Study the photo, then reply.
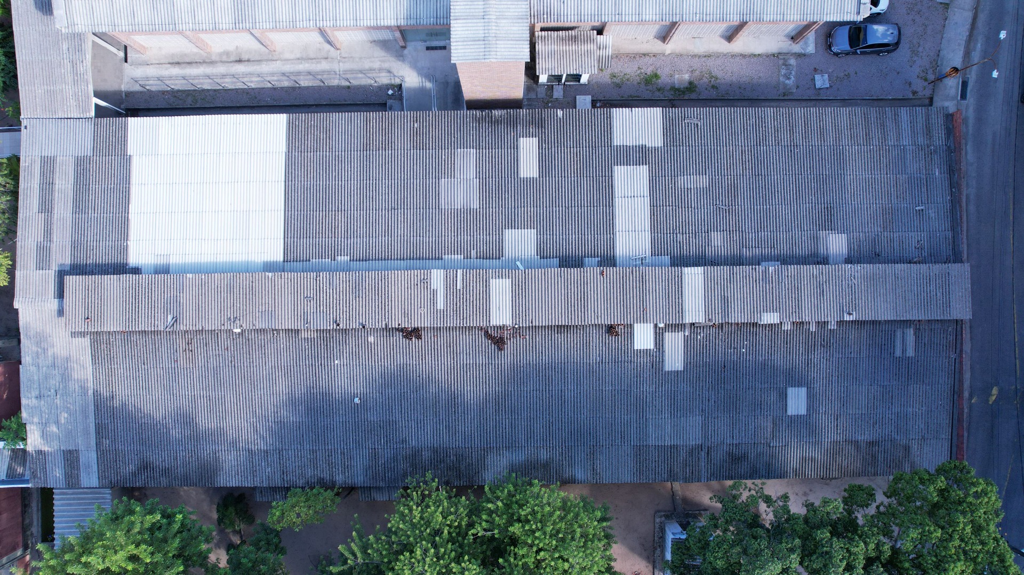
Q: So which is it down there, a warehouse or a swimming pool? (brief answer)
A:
warehouse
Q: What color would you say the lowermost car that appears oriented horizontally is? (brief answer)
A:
blue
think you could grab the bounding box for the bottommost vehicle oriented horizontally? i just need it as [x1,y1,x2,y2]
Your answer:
[827,21,903,58]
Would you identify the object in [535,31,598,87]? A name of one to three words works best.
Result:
shed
